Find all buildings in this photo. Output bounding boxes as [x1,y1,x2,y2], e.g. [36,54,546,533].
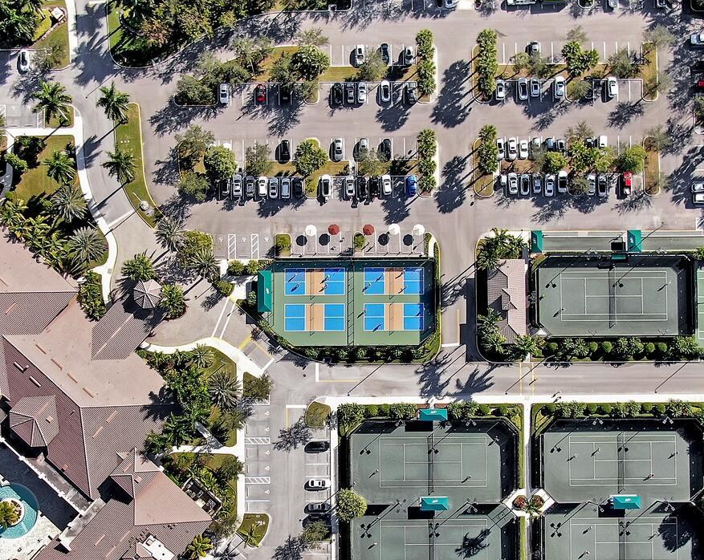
[0,220,212,560]
[487,259,526,335]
